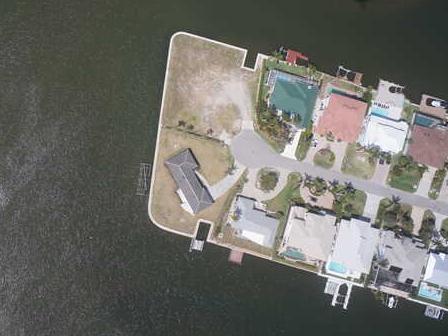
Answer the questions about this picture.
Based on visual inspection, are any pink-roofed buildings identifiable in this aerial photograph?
Yes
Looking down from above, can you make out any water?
Yes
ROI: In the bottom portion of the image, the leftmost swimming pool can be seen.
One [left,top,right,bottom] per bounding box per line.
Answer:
[287,248,308,262]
